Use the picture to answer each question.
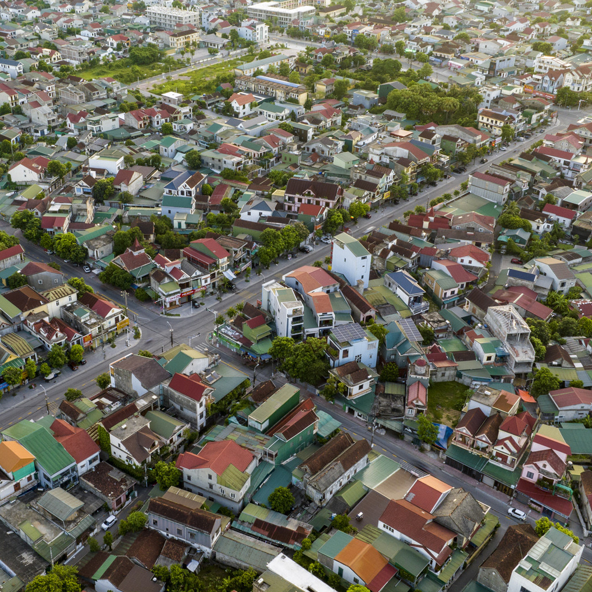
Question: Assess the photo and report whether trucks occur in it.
No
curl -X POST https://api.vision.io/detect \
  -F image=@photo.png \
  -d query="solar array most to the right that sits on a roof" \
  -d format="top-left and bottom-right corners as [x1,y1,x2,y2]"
[403,318,423,345]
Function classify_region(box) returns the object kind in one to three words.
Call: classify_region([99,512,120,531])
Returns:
car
